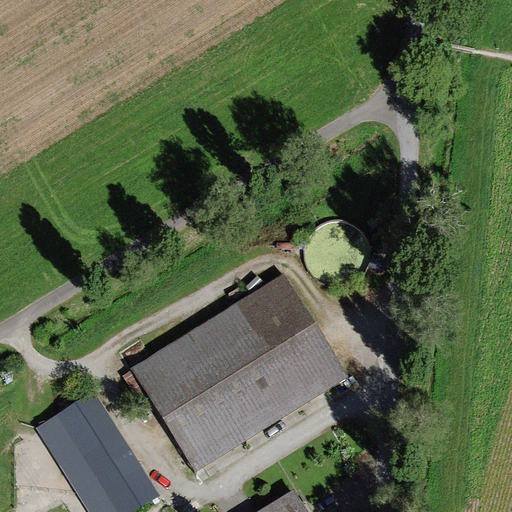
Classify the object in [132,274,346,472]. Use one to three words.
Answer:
barn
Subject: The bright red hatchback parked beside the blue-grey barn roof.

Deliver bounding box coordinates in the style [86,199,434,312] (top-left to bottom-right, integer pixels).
[150,470,172,488]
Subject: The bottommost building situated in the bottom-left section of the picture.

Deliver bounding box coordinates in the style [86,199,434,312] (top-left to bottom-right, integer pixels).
[34,392,159,512]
